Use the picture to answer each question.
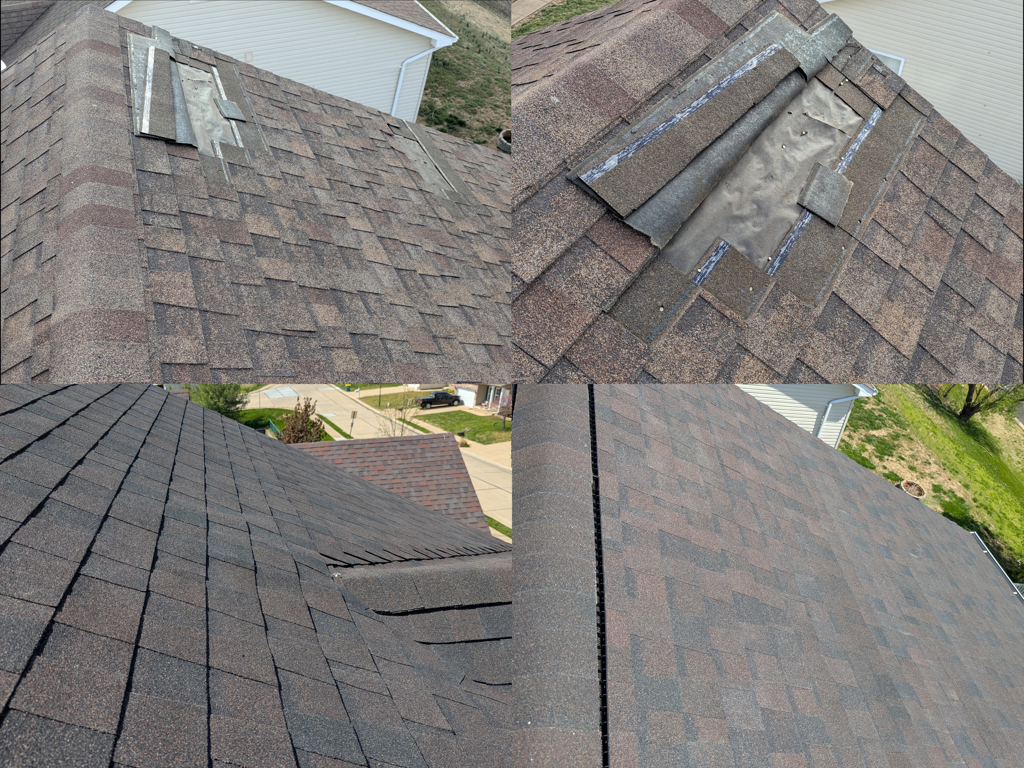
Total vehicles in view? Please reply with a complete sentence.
The picture shows 1 vehicle.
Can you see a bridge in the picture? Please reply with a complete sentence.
No, I can see no bridge in this picture.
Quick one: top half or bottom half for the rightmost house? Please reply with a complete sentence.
The rightmost house is in the top half of the image.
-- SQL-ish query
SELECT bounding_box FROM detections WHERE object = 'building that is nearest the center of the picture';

[448,384,511,412]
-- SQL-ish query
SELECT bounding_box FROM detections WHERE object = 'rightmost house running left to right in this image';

[735,384,882,448]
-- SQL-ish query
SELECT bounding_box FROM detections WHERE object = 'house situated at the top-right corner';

[822,0,1024,165]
